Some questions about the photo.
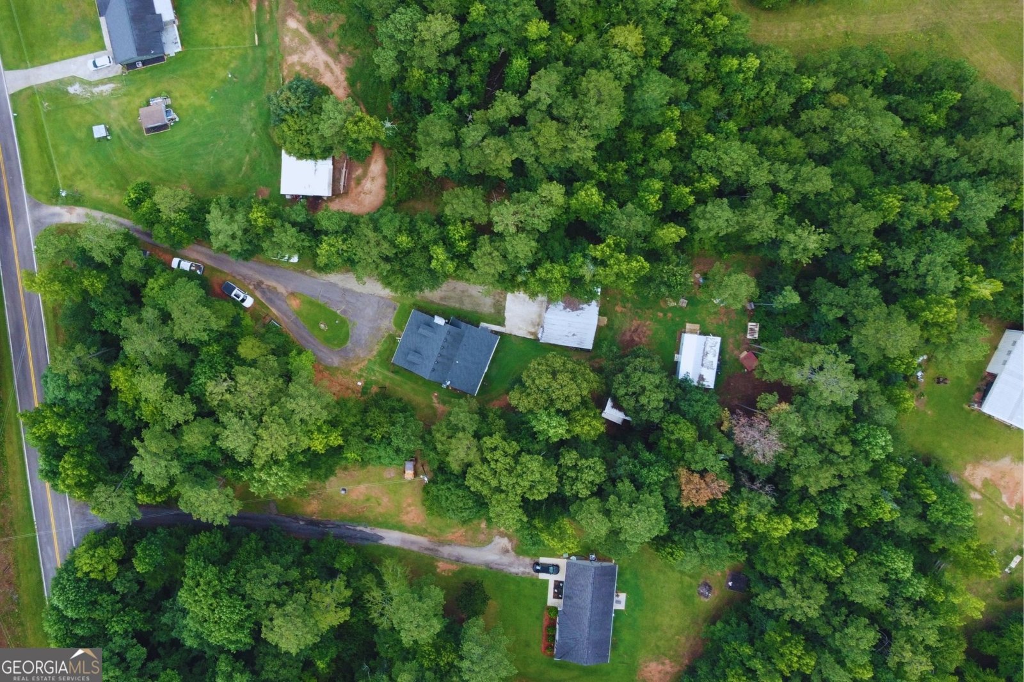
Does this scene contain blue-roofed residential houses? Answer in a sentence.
Yes, I can see a blue-roofed residential house in this picture.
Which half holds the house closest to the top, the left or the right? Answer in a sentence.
It is on the left.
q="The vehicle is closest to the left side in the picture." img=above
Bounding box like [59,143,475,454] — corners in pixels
[85,53,113,70]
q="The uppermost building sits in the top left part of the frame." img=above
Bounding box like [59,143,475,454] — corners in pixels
[95,0,174,73]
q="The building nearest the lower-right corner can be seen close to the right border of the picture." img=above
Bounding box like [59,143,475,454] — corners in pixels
[973,330,1024,430]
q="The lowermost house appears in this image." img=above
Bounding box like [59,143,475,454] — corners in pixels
[554,560,617,665]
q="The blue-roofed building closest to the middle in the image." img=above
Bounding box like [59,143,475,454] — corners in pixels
[392,309,500,396]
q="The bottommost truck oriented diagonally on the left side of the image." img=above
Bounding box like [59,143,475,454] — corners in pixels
[220,280,253,308]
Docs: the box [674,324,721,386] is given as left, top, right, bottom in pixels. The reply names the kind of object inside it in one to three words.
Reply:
house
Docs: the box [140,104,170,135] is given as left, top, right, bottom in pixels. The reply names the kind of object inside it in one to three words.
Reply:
shed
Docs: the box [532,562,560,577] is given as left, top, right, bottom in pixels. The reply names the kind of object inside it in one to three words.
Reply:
car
